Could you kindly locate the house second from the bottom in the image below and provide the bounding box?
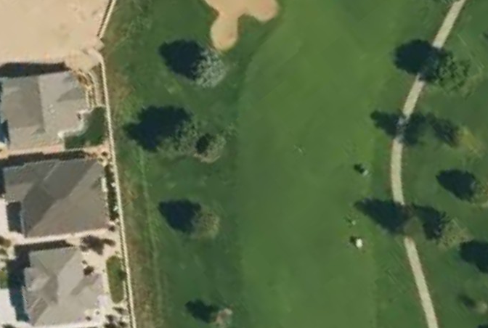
[2,157,110,238]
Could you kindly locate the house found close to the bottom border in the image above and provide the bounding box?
[22,247,104,327]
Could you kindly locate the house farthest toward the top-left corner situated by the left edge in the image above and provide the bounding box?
[1,72,90,150]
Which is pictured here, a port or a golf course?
golf course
